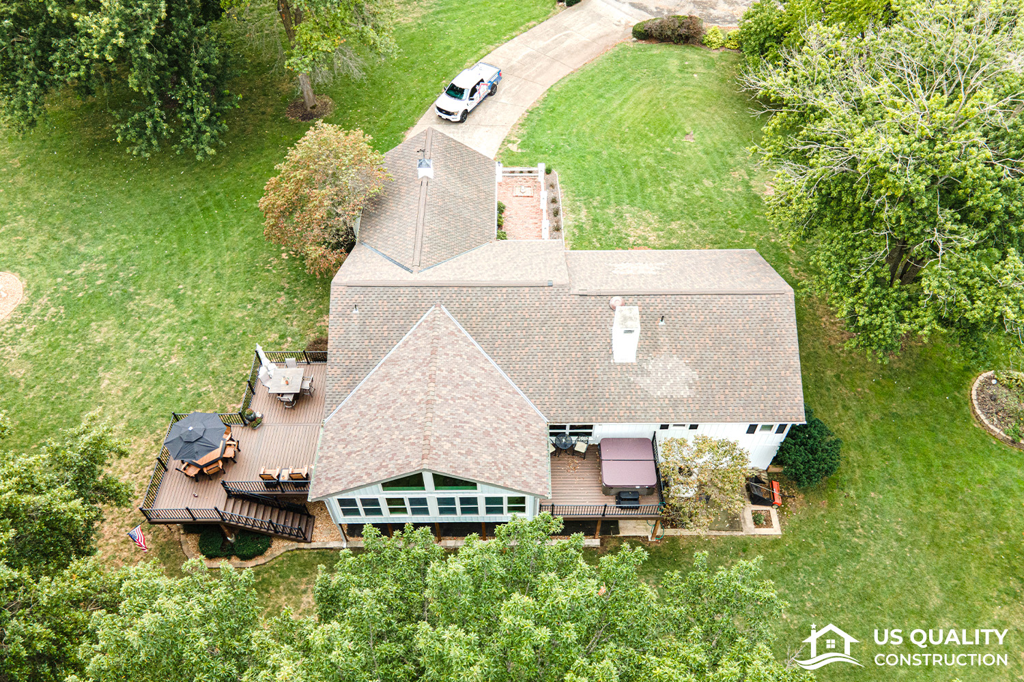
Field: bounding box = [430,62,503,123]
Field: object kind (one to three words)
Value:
truck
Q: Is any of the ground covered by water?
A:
No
